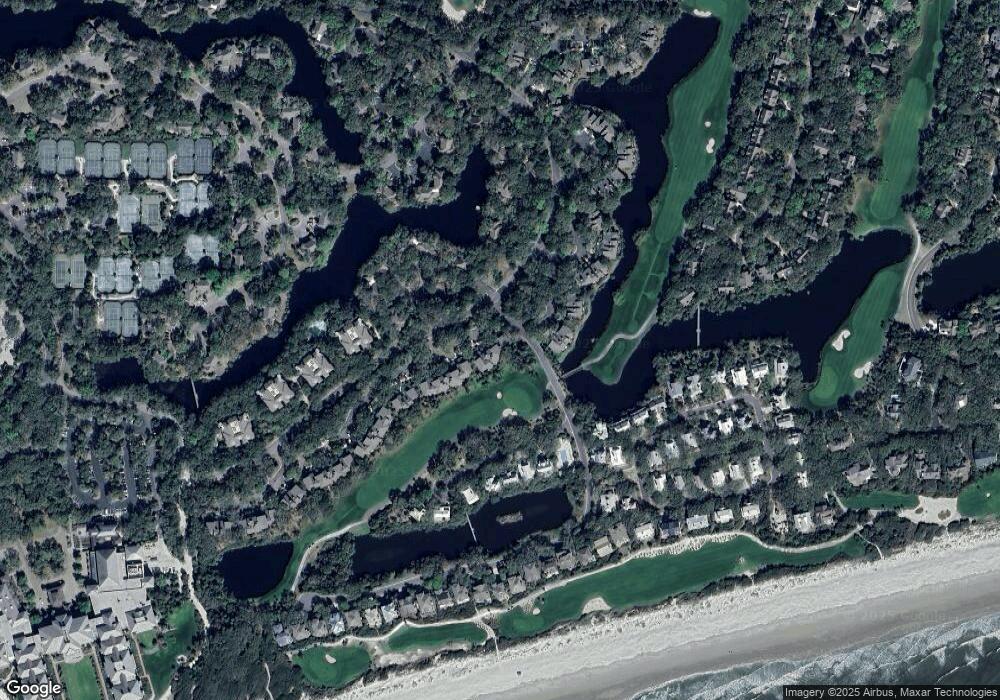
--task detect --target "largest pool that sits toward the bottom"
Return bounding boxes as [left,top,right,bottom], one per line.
[557,443,571,467]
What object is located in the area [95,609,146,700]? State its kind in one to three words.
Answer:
building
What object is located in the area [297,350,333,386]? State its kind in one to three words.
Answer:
house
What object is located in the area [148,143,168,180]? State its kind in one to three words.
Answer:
tennis court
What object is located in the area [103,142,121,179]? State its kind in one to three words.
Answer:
tennis court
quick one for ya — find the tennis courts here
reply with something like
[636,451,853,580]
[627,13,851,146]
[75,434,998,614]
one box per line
[203,234,220,266]
[176,138,194,174]
[159,257,176,292]
[116,257,134,294]
[57,140,75,176]
[142,193,164,232]
[97,257,116,294]
[103,142,121,179]
[141,259,159,294]
[69,253,86,289]
[53,253,69,289]
[104,301,121,339]
[84,142,103,179]
[196,182,212,217]
[117,193,140,232]
[186,234,203,265]
[121,301,139,339]
[148,143,168,180]
[38,139,57,175]
[194,138,213,175]
[130,143,148,179]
